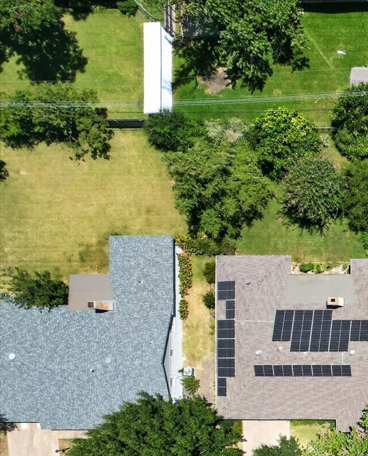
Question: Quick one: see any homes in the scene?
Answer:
Yes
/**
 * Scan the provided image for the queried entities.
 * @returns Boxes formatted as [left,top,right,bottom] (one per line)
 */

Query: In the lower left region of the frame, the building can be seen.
[0,236,175,431]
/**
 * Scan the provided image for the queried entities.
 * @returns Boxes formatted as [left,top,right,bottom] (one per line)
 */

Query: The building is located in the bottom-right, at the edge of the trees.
[216,255,368,431]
